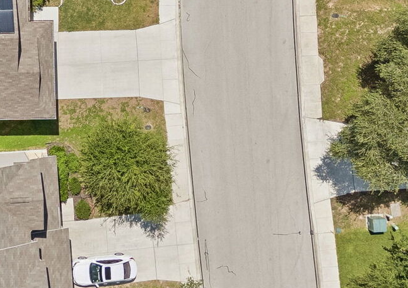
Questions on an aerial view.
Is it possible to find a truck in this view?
No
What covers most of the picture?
paved ground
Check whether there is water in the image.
No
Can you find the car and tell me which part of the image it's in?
bottom left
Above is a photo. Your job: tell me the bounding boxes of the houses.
[0,0,58,123]
[0,151,72,288]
